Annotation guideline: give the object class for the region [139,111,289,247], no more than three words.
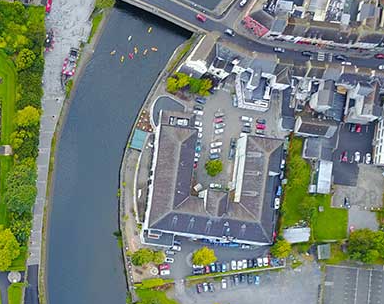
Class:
building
